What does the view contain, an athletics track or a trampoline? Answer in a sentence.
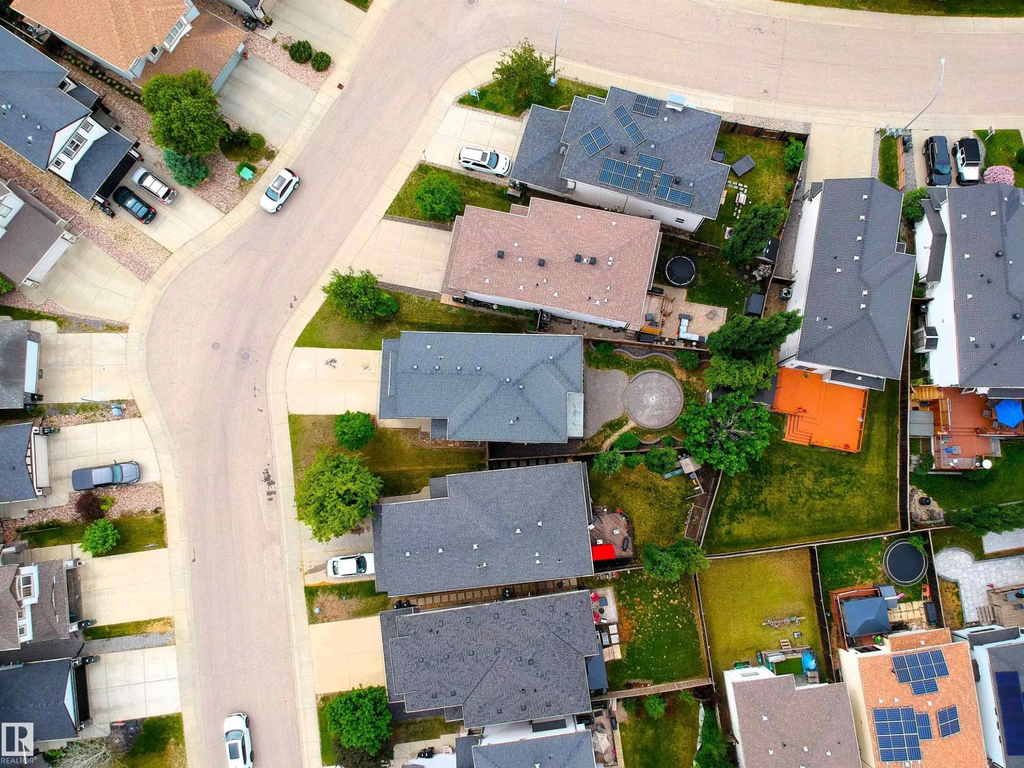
It is a trampoline that can be seen here.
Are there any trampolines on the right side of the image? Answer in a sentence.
Yes, looking on the right side of the image, one can make out a trampoline.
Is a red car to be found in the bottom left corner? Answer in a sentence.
No, in the bottom left corner there is no red car.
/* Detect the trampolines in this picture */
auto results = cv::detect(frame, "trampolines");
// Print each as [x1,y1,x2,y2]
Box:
[662,255,697,289]
[878,539,928,586]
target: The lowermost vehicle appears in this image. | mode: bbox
[221,711,254,768]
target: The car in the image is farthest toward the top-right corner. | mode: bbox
[923,132,953,187]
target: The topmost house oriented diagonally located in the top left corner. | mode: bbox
[0,20,141,204]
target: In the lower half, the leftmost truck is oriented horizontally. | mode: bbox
[69,460,141,491]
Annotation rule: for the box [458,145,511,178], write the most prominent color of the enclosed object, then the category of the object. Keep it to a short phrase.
white car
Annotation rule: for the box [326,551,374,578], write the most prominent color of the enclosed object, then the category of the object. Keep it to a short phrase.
white car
